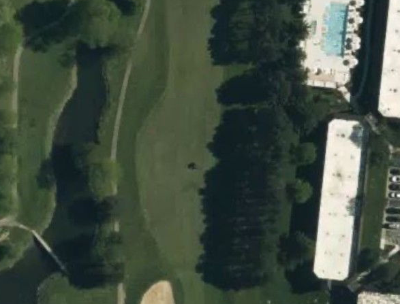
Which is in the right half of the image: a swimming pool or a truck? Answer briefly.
swimming pool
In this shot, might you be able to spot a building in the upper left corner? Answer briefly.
No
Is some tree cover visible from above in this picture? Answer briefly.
Yes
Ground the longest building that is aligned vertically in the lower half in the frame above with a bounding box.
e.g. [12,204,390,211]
[307,113,366,285]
